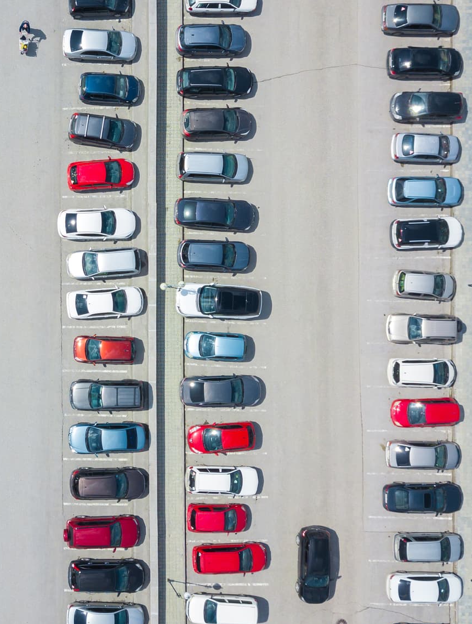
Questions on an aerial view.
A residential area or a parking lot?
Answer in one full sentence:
The area seen from above is a parking lot.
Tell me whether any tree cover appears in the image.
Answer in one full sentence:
No, there's no tree cover in this view.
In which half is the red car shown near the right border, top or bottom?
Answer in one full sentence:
The red car shown near the right border sits in the bottom half of the picture.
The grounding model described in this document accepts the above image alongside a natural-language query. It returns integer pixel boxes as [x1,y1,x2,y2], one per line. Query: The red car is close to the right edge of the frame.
[389,393,462,432]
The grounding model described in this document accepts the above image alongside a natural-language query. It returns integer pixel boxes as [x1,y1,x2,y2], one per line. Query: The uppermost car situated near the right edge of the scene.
[380,0,460,40]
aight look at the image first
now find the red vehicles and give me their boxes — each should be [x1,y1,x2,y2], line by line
[74,332,134,368]
[389,393,462,432]
[64,511,140,552]
[187,500,246,536]
[187,419,255,458]
[192,538,266,576]
[67,155,134,193]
